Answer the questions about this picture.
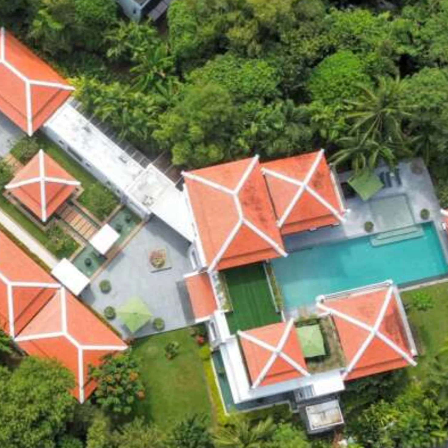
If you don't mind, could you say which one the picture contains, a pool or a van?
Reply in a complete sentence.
Visible in the photo is a pool.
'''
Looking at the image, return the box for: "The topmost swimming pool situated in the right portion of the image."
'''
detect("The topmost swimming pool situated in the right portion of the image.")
[368,192,416,232]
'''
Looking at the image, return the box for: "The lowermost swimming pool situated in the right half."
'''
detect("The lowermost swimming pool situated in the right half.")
[267,217,448,316]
